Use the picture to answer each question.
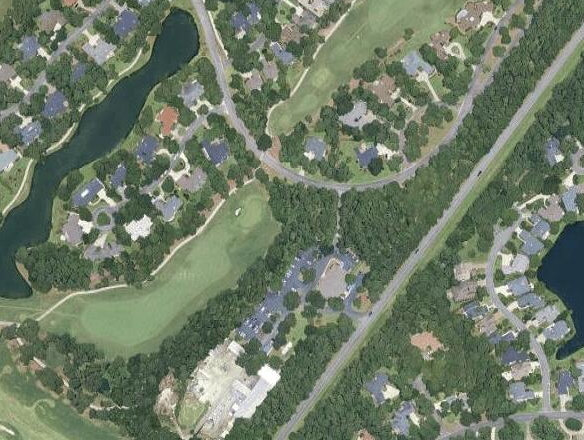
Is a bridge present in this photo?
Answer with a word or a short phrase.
No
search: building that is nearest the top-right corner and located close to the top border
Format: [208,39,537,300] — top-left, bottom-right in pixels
[458,0,496,31]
